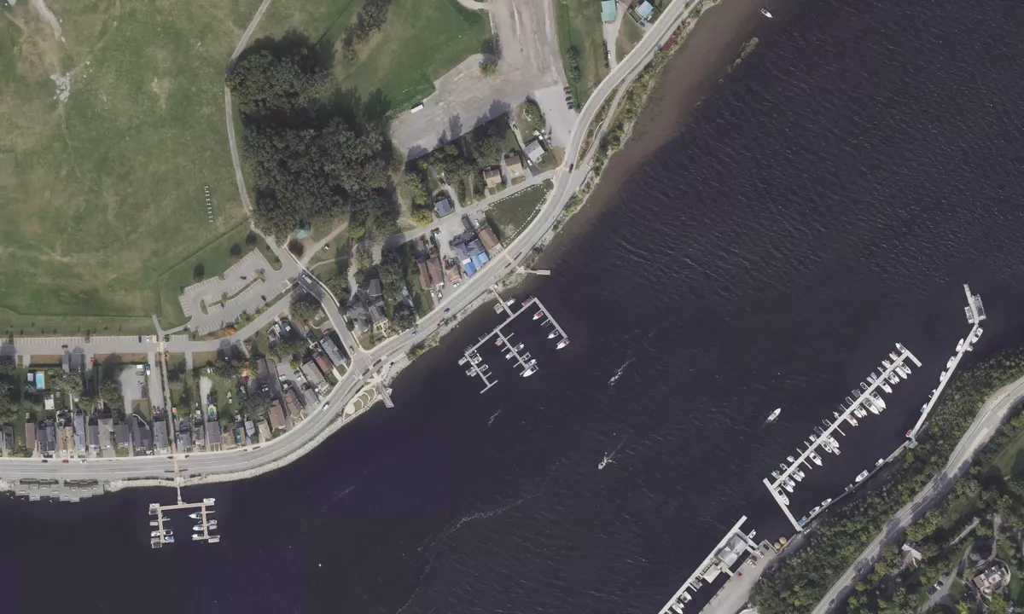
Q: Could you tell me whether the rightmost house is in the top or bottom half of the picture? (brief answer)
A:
bottom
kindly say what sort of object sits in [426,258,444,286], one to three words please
house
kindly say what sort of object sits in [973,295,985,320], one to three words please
boat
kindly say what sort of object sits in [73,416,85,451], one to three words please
house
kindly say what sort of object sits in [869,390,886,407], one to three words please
boat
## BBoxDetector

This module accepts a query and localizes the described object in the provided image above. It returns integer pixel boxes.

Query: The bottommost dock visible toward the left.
[150,485,220,544]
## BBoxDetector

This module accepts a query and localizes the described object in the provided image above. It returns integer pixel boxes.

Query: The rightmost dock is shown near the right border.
[910,284,980,448]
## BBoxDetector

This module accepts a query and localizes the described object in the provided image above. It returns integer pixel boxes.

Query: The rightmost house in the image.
[971,564,1007,595]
